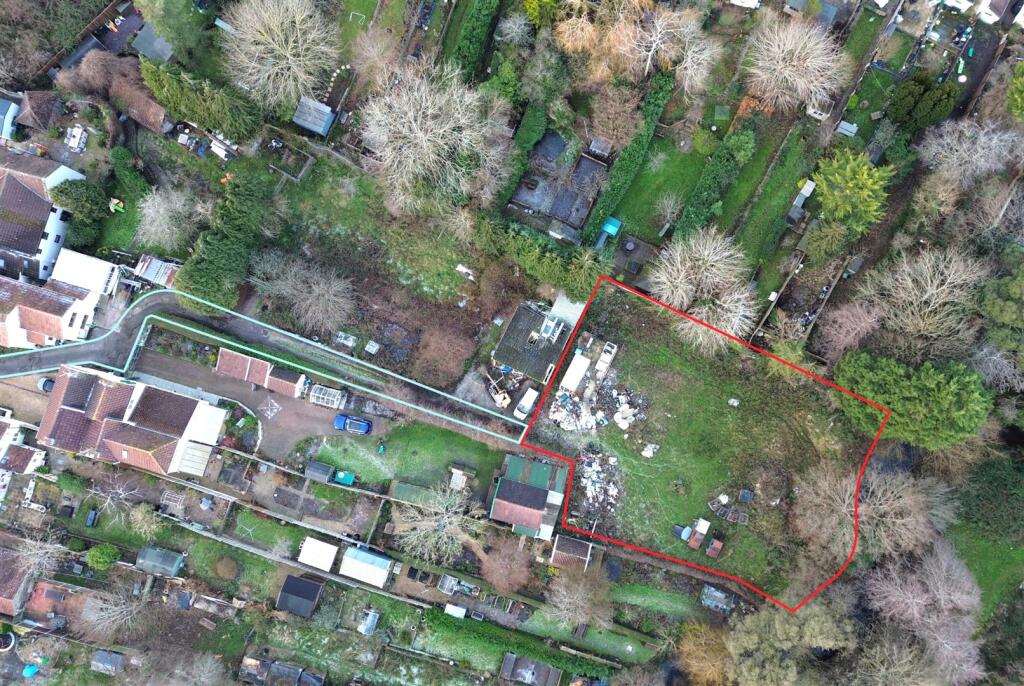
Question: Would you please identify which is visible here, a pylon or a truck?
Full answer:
The one in the frame is a truck.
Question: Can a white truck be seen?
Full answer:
Yes, the photo shows a white truck.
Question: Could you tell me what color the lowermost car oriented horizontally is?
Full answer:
In this view, the lowermost car oriented horizontally is blue.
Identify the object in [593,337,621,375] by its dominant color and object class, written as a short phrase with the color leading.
white truck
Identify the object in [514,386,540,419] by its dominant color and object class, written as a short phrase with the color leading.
white vehicle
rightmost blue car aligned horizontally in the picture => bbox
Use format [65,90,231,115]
[334,413,372,434]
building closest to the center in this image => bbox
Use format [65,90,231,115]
[493,303,573,385]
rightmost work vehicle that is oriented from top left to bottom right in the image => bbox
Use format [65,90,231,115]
[484,377,514,416]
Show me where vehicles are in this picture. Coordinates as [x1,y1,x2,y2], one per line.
[556,345,592,395]
[593,337,621,375]
[484,377,514,416]
[334,413,372,434]
[514,386,540,419]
